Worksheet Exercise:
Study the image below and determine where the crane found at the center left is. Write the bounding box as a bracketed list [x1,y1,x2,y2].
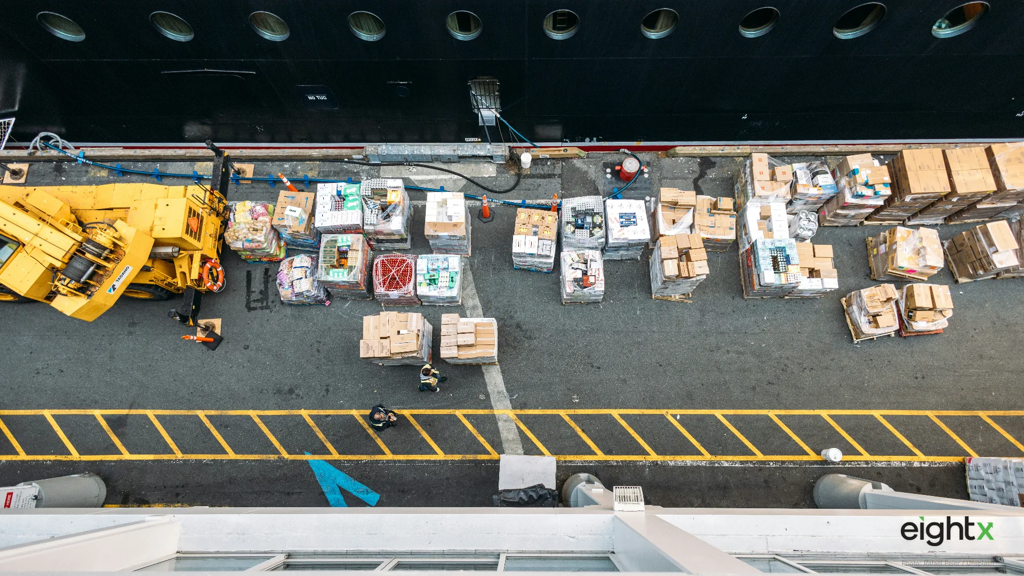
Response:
[0,139,248,336]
